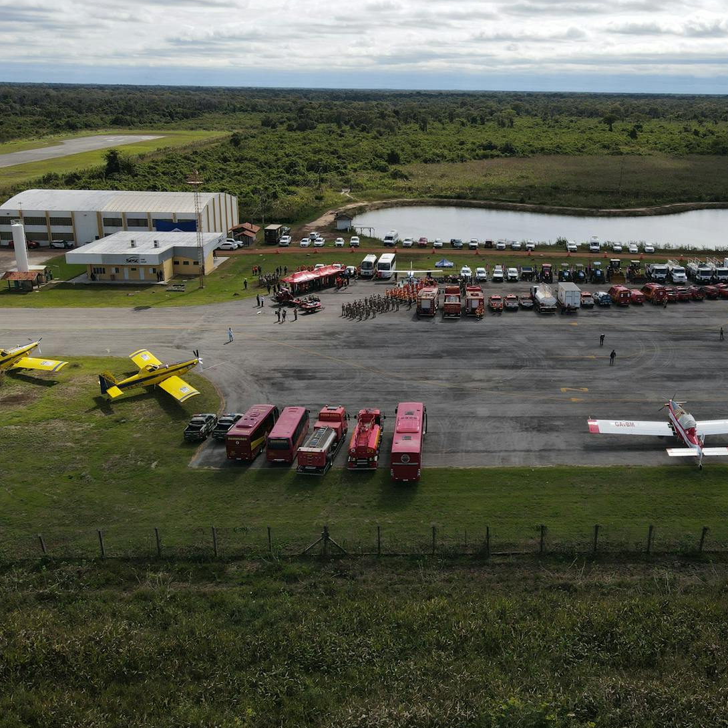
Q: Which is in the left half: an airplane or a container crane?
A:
airplane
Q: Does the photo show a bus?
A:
Yes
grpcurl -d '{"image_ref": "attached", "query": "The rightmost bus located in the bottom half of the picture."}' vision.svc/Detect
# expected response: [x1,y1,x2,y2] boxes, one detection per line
[391,405,427,480]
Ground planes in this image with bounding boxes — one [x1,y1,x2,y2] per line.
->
[381,263,447,285]
[0,330,89,375]
[94,348,210,404]
[584,392,728,468]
